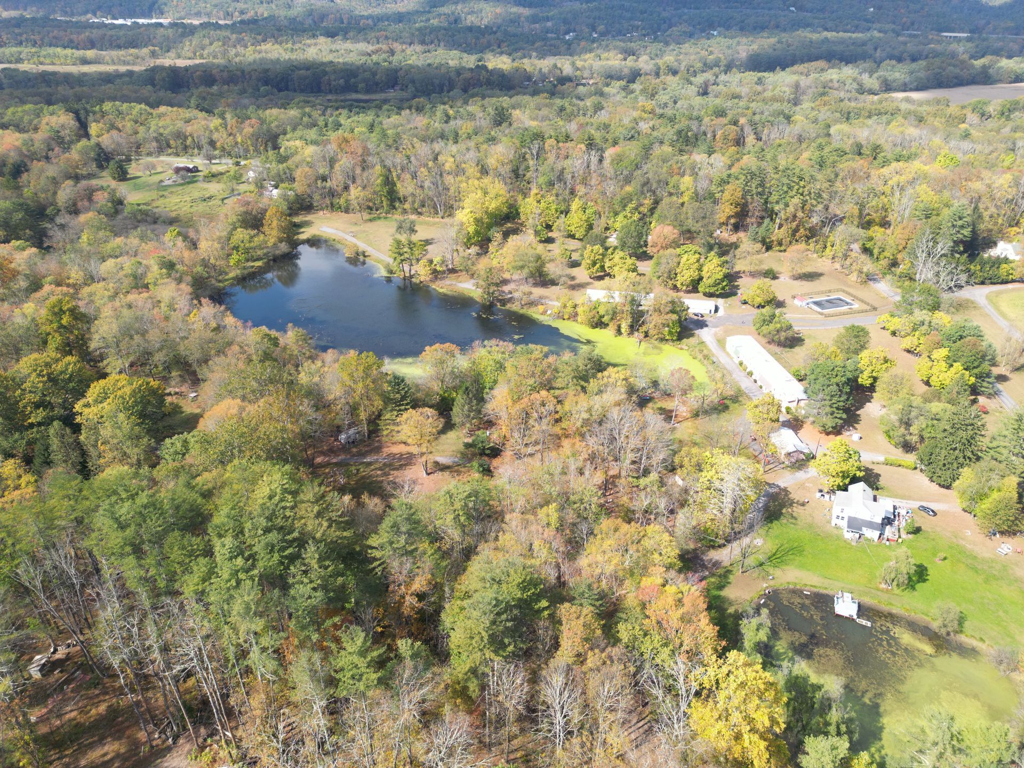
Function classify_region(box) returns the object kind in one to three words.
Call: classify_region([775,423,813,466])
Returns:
barn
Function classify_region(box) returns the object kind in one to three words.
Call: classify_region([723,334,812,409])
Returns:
building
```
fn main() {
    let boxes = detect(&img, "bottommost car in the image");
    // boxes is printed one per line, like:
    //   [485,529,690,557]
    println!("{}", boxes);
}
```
[918,503,939,515]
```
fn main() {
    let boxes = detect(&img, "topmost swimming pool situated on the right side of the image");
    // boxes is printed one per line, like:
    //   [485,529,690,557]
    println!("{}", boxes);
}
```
[809,296,860,313]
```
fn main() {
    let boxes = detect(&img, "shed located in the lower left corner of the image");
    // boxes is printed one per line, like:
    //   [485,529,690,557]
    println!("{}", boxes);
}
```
[24,652,51,677]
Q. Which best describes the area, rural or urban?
rural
